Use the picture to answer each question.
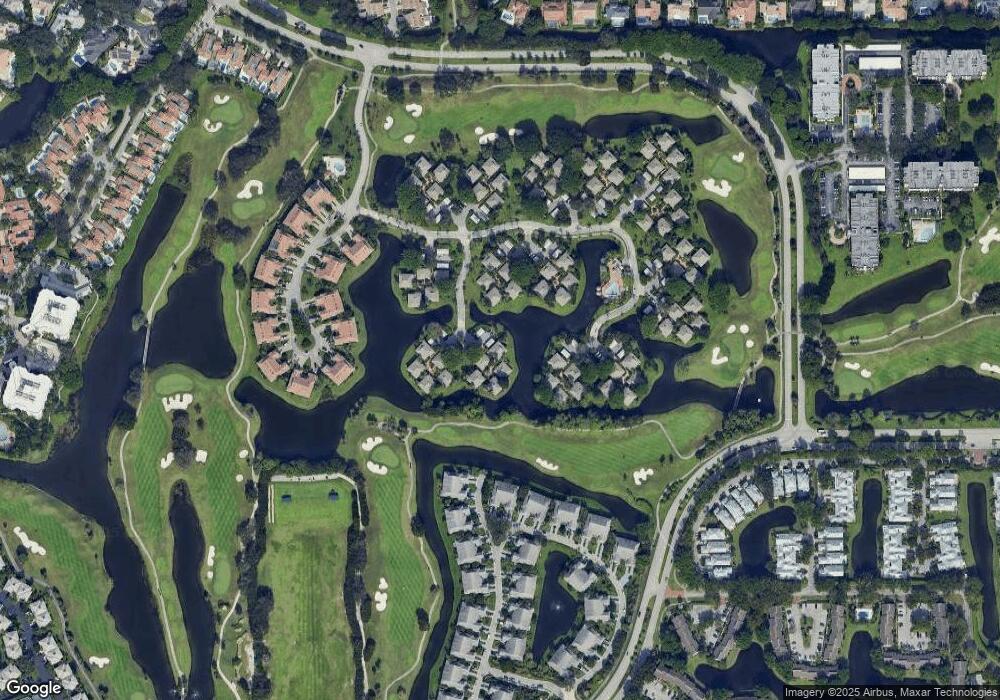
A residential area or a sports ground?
residential area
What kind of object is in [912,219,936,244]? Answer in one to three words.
swimming pool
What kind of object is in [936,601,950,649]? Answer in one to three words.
building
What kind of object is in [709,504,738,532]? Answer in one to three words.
house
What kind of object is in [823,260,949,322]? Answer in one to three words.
pond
